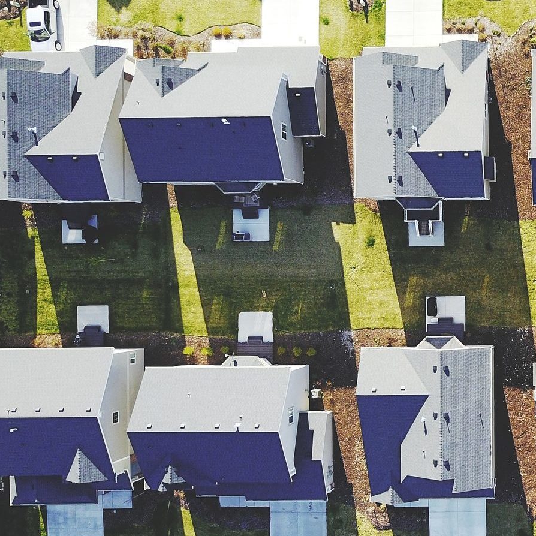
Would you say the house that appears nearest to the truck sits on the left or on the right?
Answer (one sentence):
You can find the house that appears nearest to the truck on the left side of the picture.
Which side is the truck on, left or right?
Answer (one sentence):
It is on the left.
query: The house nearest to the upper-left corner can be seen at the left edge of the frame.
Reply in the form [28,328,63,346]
[0,43,142,206]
